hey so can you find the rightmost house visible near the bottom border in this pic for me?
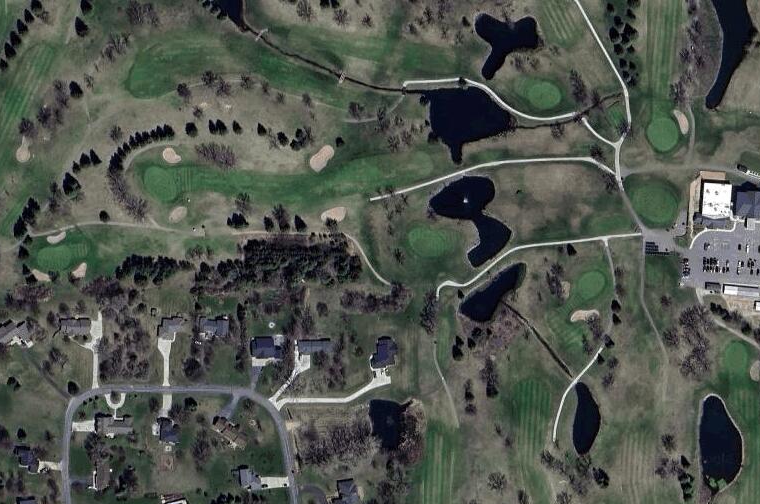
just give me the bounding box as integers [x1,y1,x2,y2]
[333,479,358,504]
